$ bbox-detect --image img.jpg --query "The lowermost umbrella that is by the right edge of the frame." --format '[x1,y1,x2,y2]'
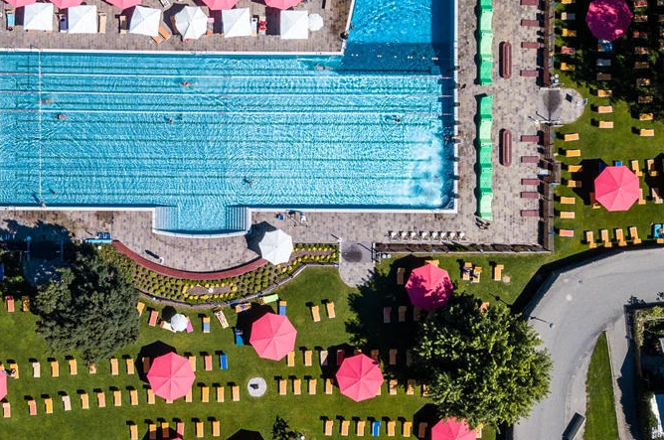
[592,166,637,211]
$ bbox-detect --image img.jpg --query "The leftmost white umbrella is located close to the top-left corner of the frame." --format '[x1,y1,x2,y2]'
[25,3,54,30]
